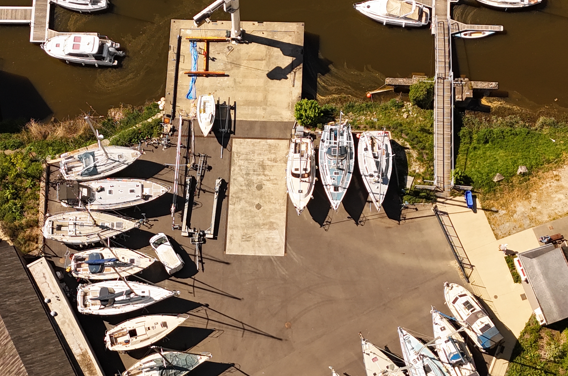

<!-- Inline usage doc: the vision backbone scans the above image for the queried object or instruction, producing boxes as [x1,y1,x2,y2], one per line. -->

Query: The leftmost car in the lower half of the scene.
[151,232,185,275]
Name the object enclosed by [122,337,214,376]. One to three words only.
boat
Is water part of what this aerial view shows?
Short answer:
Yes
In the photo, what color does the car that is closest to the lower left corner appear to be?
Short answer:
white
